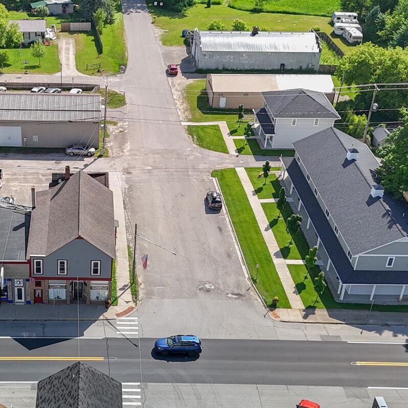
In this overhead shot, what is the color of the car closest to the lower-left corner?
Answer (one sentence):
The color of the car closest to the lower-left corner is blue.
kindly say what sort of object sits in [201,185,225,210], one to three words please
car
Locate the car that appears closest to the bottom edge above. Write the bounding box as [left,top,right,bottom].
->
[151,330,202,356]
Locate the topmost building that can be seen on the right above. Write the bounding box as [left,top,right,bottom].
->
[191,22,323,71]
